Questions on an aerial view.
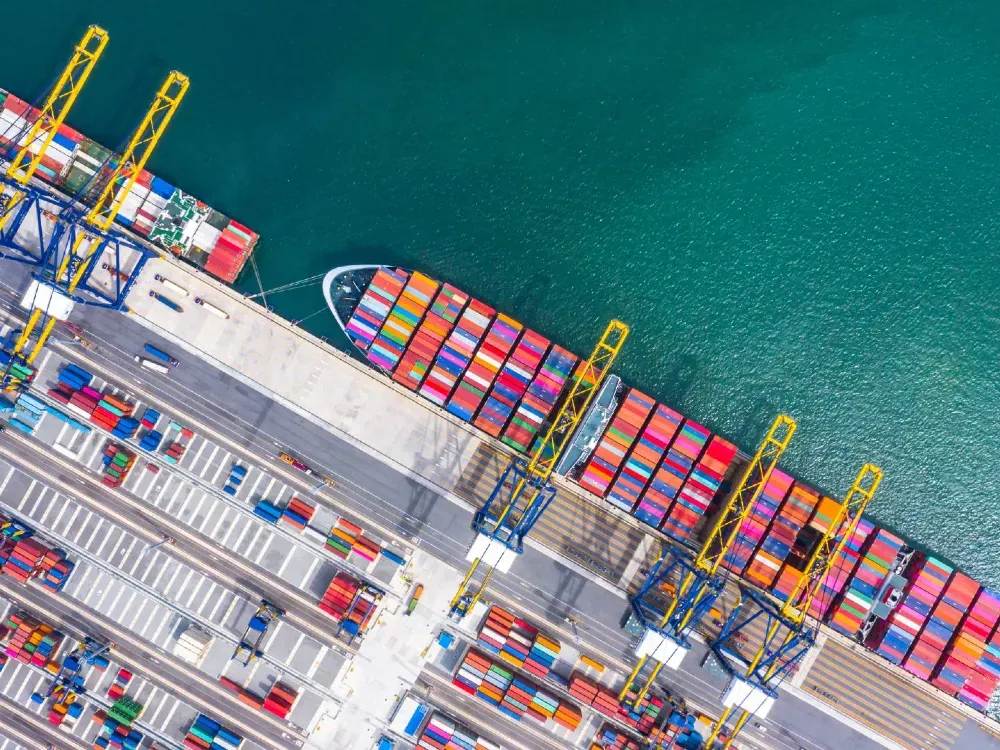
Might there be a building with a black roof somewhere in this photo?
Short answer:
No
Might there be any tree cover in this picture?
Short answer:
No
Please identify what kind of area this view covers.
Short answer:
port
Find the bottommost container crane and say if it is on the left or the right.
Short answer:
right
